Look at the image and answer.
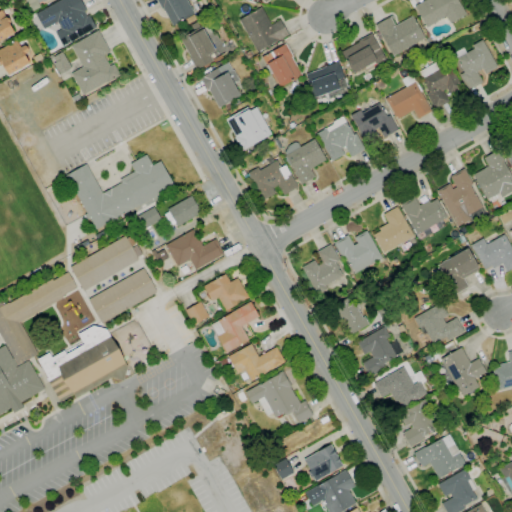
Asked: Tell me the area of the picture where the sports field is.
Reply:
left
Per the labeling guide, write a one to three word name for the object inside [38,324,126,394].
building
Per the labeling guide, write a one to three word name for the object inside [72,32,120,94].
house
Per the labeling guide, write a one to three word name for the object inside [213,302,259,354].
house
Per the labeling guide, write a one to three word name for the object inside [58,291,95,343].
playground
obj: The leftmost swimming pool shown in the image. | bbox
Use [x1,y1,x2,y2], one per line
[40,28,58,50]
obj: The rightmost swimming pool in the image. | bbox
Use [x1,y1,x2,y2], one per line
[432,24,452,36]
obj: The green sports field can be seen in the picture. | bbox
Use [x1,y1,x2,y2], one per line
[0,118,65,289]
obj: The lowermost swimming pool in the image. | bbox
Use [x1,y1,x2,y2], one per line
[204,328,218,348]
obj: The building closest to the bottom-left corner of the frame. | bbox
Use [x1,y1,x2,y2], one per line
[0,345,44,416]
